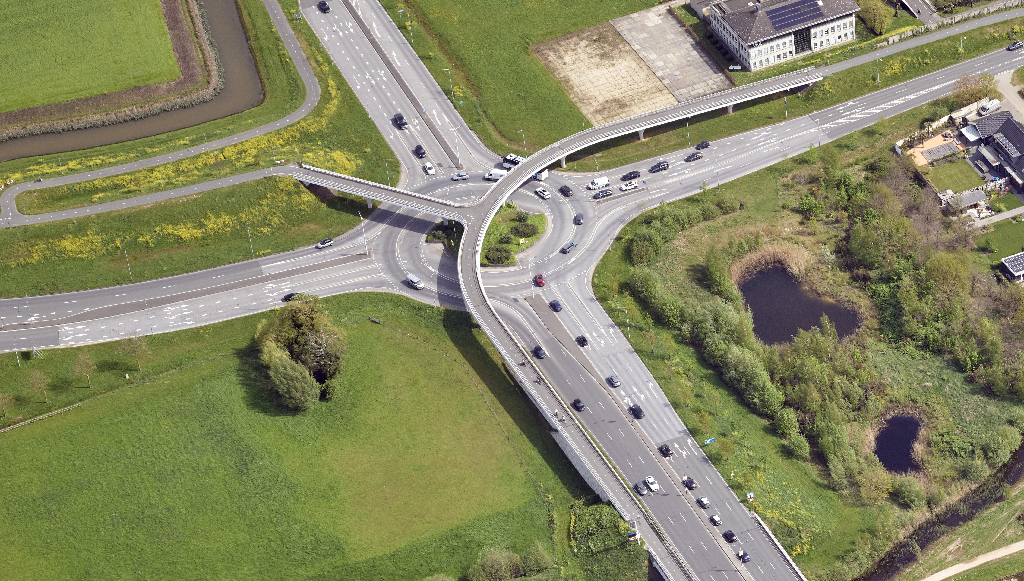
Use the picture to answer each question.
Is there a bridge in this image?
Yes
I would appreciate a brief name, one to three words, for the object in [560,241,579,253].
vehicle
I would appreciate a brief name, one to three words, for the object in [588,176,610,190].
vehicle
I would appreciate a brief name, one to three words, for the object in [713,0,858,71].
building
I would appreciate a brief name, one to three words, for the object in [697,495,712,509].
car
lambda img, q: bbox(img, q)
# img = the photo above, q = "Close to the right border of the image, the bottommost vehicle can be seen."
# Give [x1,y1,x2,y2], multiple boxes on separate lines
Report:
[978,96,1002,116]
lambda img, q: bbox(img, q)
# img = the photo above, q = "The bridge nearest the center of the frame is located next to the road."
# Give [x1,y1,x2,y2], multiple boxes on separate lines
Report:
[297,68,810,523]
